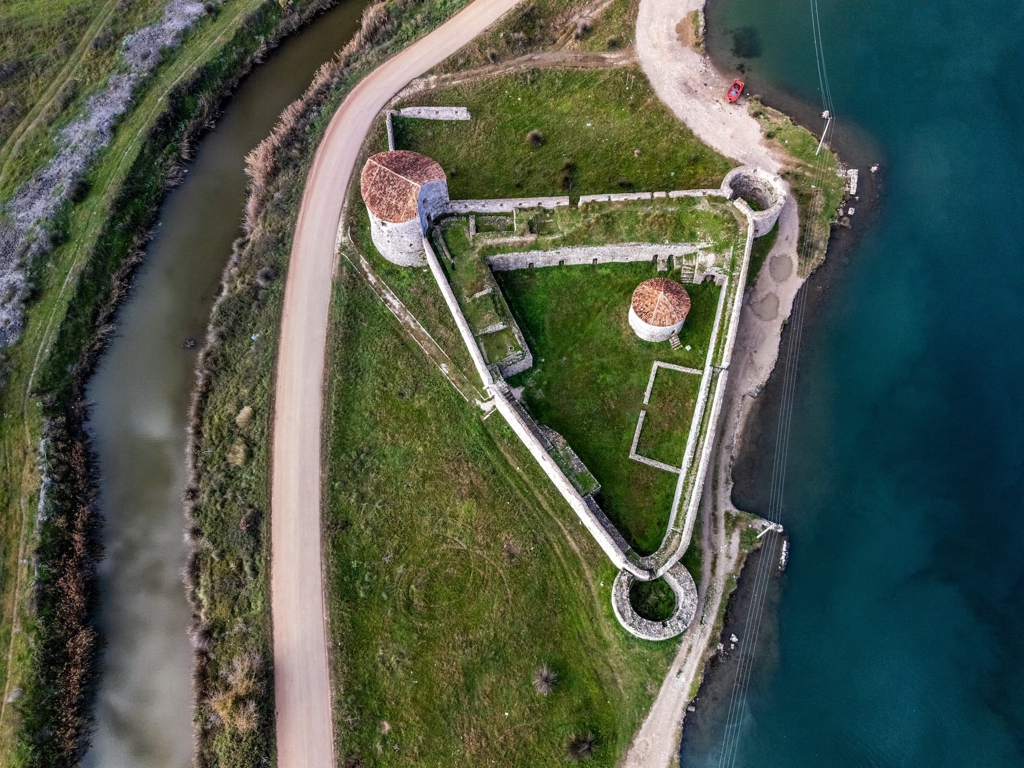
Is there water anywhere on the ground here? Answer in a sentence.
Yes, some water is visible.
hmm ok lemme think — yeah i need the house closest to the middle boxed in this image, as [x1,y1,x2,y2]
[628,276,692,342]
